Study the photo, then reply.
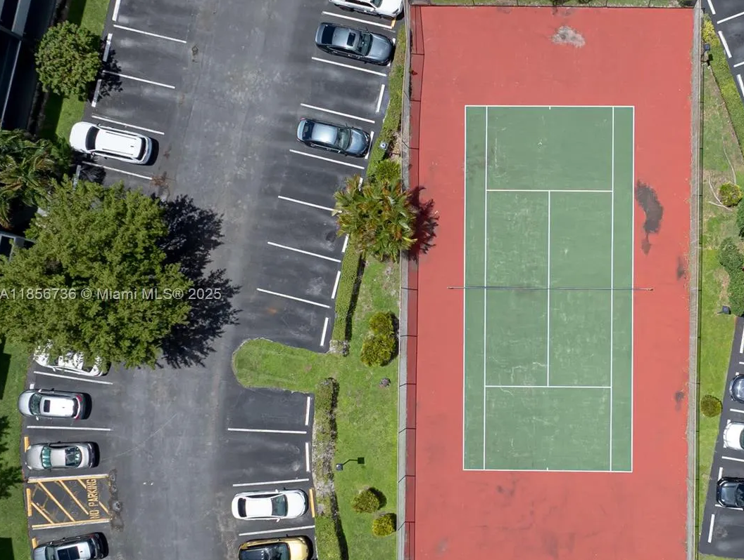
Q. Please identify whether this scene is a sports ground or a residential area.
sports ground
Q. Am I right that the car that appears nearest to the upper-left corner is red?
No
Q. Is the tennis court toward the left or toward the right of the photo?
right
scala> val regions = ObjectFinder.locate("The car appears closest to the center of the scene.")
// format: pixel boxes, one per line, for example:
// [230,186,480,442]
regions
[297,116,370,158]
